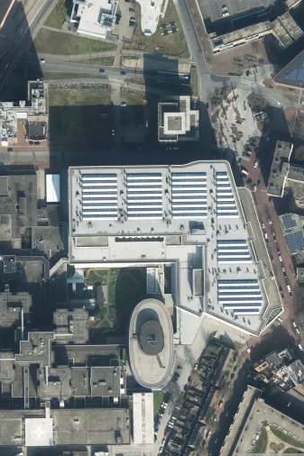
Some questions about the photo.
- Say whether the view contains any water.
No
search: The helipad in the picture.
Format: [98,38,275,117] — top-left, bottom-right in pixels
[25,403,52,451]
